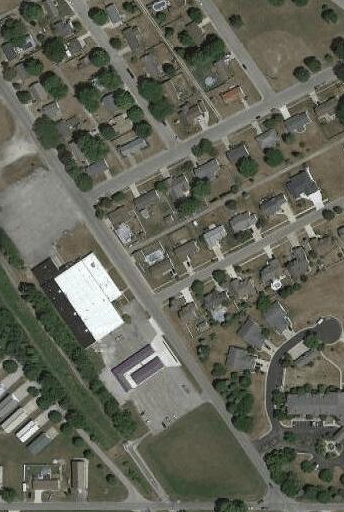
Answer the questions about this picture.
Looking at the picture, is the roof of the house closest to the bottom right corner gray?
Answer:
Yes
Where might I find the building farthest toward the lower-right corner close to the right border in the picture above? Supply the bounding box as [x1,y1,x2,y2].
[285,393,344,445]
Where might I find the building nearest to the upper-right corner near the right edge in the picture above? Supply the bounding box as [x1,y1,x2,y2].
[313,95,340,121]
